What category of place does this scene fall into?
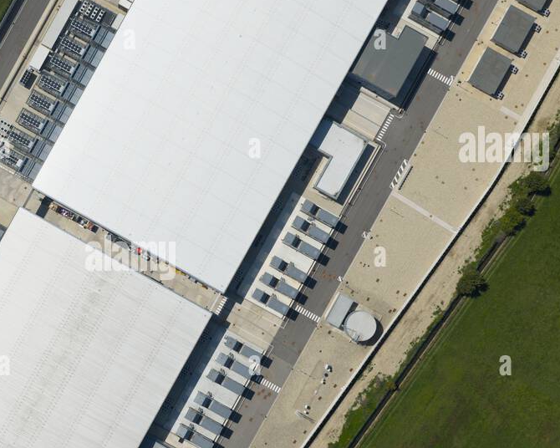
industrial area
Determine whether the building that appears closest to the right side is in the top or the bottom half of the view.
top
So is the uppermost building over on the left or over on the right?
left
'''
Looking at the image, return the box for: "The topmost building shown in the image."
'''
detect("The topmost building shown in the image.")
[42,0,80,49]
